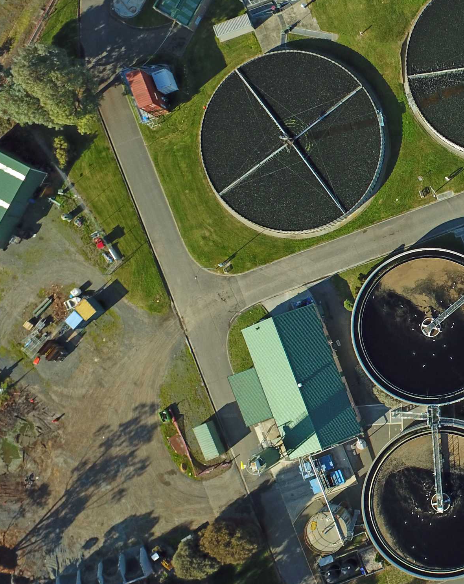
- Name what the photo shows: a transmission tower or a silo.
silo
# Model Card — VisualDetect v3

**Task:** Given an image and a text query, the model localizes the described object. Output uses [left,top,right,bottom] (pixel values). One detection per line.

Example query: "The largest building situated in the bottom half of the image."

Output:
[228,304,366,460]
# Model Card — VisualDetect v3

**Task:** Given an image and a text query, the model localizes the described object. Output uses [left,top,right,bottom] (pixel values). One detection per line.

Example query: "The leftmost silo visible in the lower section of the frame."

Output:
[243,445,289,477]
